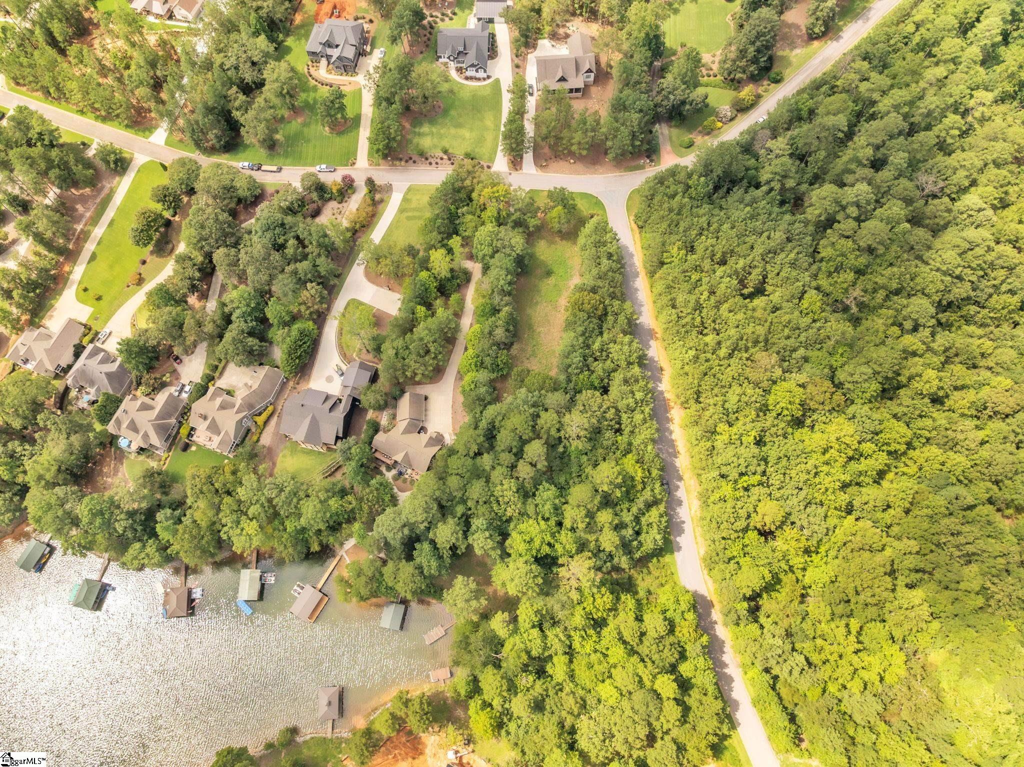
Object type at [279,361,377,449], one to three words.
house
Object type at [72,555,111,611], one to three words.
building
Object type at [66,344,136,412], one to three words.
house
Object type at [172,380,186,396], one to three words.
car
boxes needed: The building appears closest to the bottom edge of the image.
[318,686,344,735]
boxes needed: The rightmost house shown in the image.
[535,32,596,97]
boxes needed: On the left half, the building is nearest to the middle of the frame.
[371,392,444,479]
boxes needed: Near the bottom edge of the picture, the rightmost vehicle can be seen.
[447,747,476,764]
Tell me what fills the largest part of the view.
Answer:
trees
